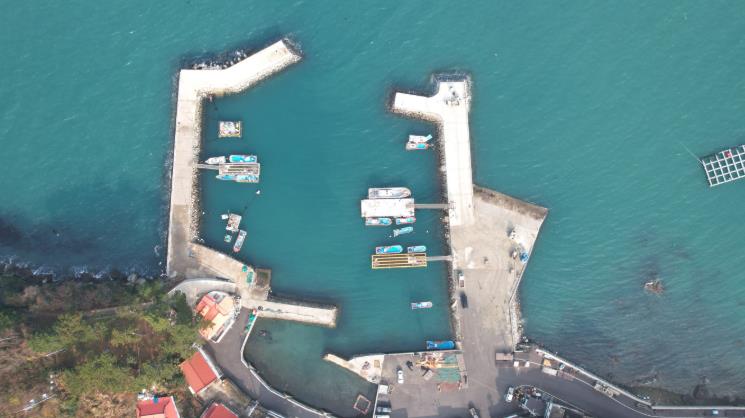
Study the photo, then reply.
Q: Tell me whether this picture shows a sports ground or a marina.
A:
marina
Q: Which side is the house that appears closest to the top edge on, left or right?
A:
left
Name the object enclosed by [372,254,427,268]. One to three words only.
pier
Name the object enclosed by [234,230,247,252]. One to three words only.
boat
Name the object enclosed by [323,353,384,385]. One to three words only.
pier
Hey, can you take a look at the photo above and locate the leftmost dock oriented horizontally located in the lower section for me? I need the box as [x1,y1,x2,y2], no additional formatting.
[241,297,337,328]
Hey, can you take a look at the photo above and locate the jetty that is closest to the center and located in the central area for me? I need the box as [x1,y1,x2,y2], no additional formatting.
[361,199,414,217]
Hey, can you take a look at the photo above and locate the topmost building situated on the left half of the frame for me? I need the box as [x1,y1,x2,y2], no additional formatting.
[193,290,242,342]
